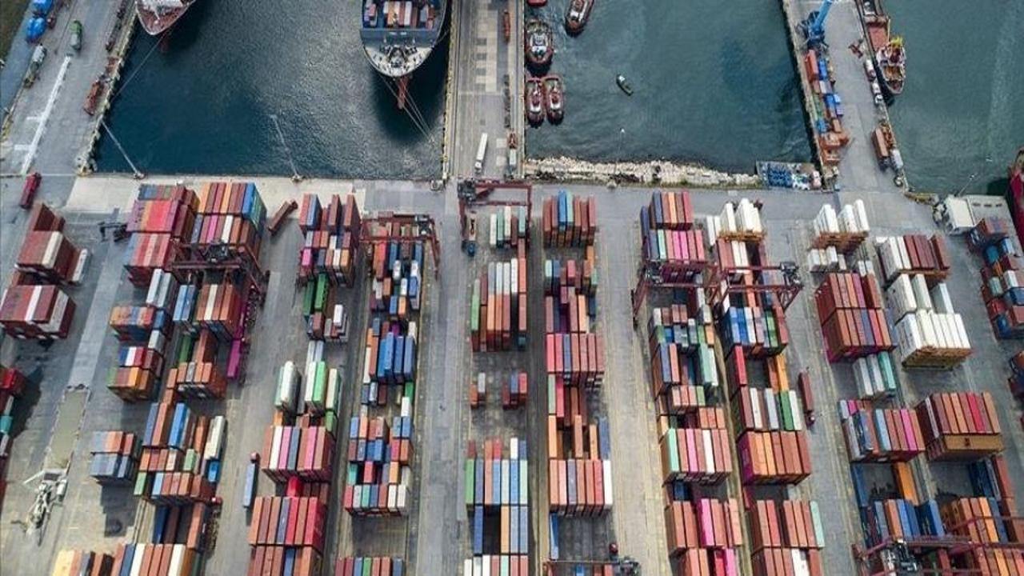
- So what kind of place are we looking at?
port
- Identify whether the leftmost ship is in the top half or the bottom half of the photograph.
top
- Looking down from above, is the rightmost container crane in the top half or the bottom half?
bottom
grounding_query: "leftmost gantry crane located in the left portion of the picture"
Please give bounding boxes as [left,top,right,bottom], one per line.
[166,239,268,299]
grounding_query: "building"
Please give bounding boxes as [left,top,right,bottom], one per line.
[928,197,976,238]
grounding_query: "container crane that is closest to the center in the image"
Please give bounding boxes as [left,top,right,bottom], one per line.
[458,180,534,240]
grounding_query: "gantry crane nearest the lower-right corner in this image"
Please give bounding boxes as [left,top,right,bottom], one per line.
[938,512,1024,564]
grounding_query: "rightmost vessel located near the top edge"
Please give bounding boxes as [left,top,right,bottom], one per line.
[850,0,915,105]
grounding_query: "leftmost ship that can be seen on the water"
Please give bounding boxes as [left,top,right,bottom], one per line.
[142,0,207,59]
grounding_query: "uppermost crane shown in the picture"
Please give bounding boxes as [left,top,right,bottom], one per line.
[792,0,839,53]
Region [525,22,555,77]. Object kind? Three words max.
boat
